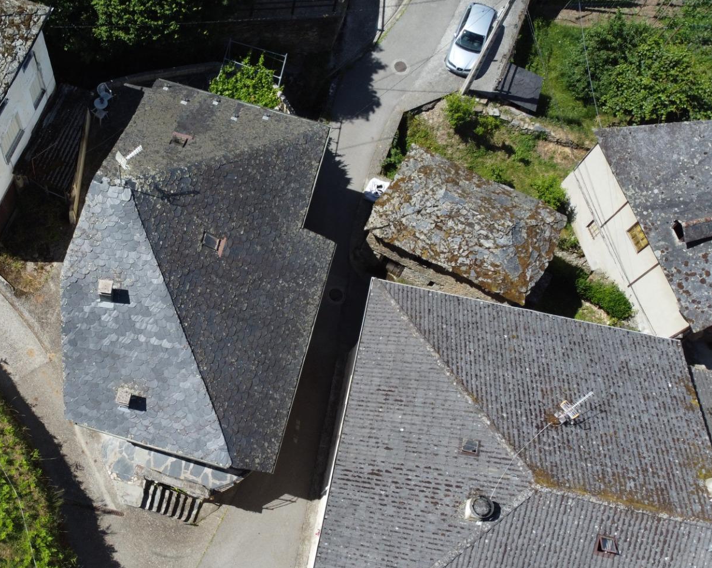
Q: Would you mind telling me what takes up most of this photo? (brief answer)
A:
buildings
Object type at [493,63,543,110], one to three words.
shed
